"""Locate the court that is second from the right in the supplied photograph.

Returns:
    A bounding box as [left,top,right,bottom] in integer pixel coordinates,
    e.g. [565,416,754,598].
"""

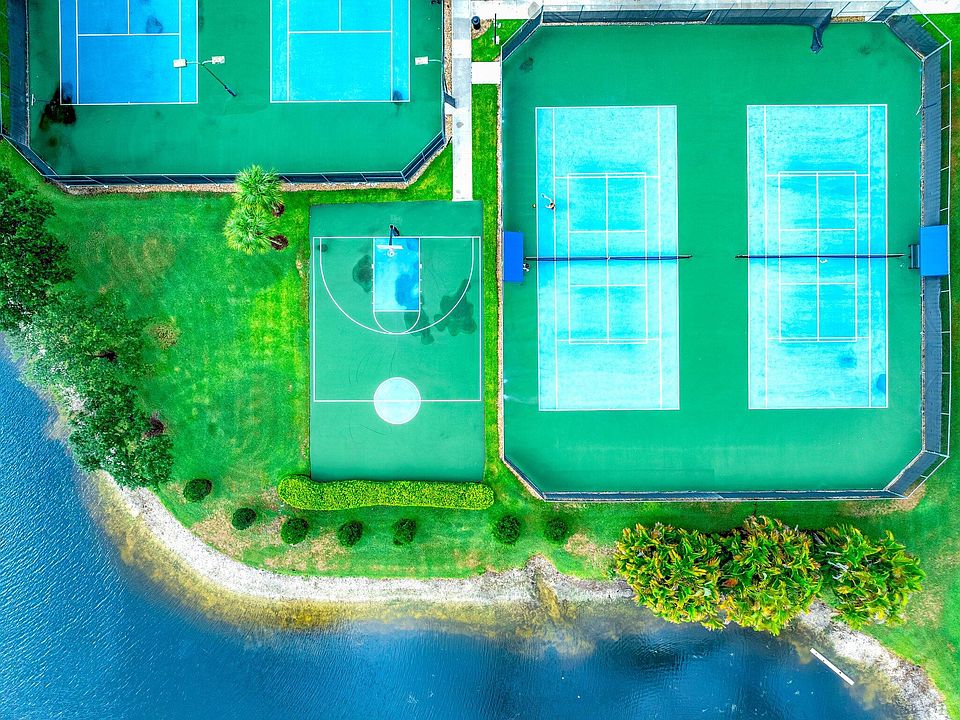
[536,105,680,412]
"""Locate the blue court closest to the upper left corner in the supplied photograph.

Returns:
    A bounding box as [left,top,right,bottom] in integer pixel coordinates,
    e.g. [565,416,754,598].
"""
[58,0,200,103]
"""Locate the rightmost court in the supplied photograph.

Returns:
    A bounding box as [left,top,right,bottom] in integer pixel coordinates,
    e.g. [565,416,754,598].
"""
[746,103,890,410]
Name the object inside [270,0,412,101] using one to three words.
tennis court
